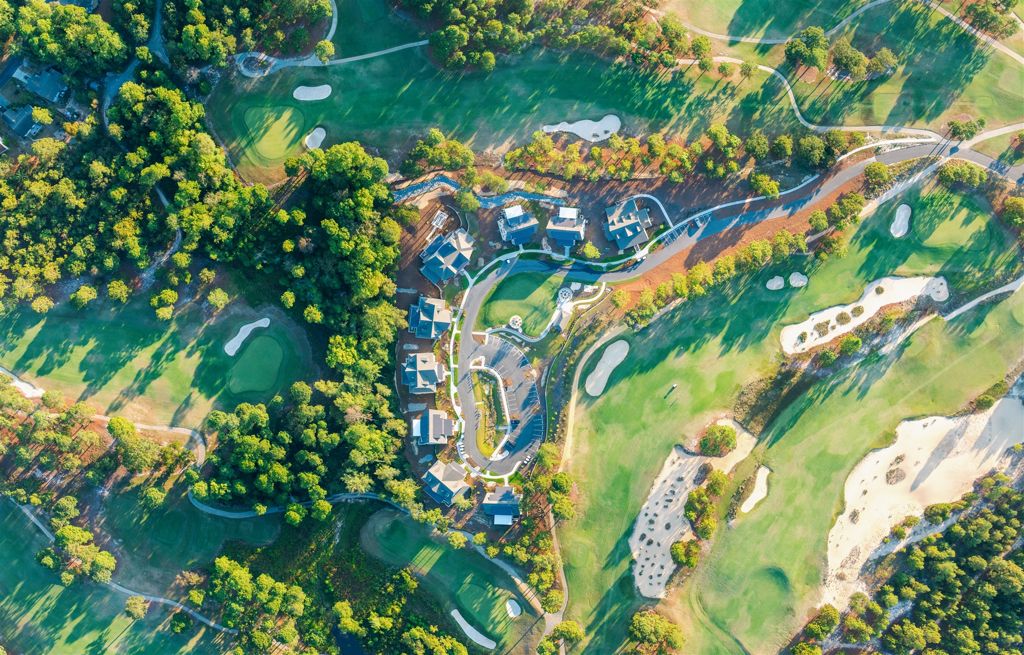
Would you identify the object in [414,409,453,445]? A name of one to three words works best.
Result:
house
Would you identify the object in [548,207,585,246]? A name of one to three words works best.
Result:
house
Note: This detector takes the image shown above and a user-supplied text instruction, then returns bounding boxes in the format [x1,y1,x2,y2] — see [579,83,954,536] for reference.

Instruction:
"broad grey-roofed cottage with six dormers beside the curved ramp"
[600,194,655,250]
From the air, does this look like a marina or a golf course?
golf course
